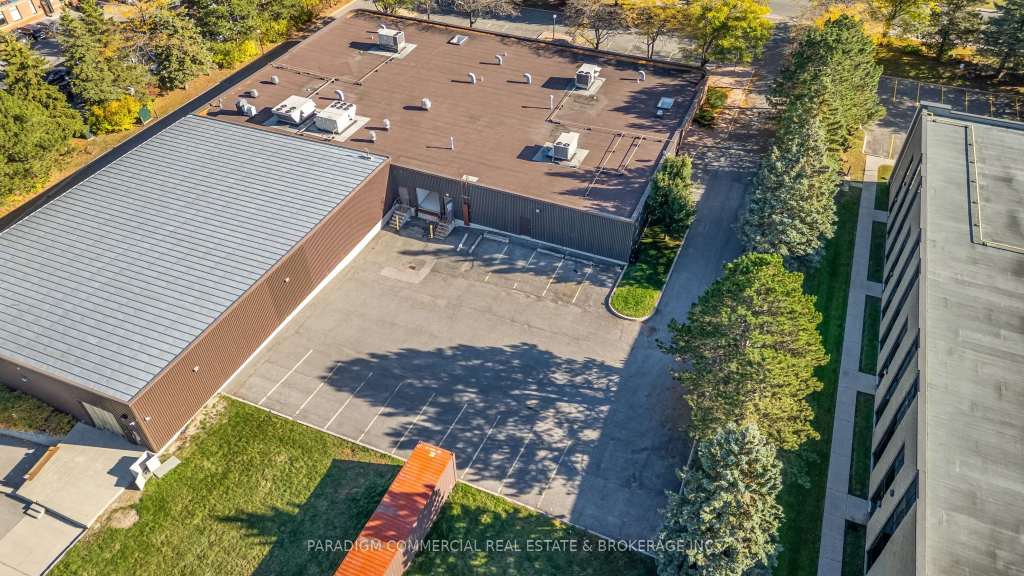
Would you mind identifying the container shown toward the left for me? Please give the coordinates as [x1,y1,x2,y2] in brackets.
[332,440,457,576]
